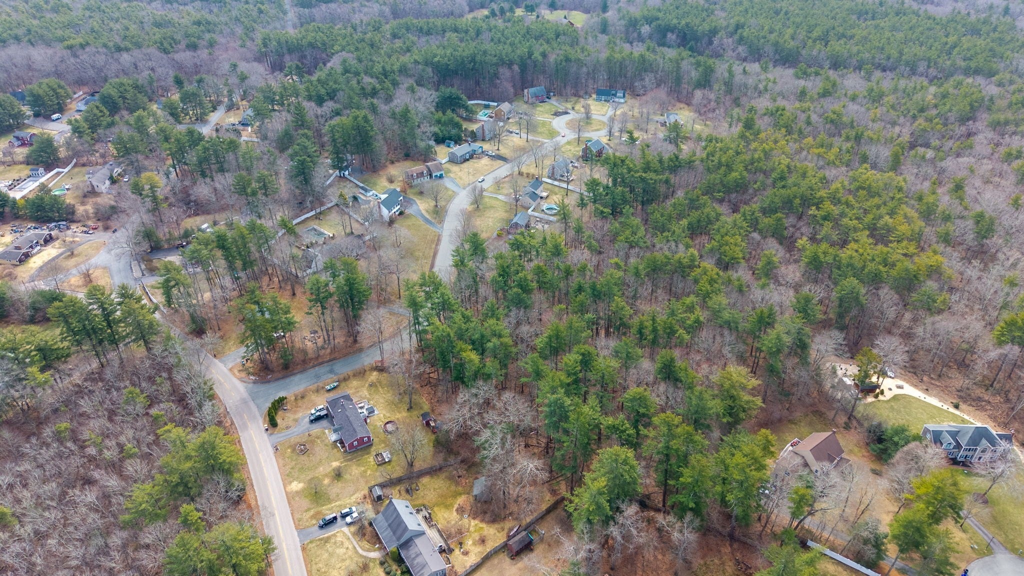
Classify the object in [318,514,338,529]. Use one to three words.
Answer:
car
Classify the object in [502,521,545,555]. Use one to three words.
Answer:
shed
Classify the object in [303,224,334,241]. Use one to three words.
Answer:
swimming pool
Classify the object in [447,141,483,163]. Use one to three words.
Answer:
house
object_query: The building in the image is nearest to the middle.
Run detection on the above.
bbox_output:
[505,210,525,233]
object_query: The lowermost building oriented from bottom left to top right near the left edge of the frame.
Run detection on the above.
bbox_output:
[0,221,60,264]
